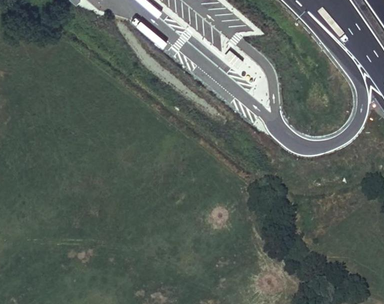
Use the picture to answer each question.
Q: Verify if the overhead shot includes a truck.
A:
Yes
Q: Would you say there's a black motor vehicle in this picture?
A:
No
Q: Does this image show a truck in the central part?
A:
No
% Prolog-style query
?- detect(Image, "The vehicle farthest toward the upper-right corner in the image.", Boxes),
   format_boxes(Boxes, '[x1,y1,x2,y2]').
[318,6,350,42]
